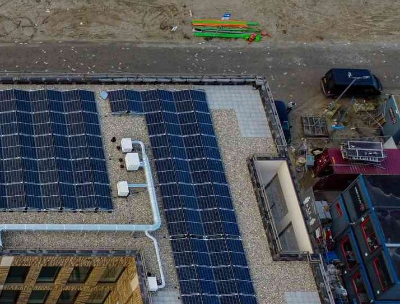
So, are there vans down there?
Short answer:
Yes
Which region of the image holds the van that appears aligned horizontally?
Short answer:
top right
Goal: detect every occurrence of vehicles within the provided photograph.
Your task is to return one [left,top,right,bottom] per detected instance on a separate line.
[319,64,384,96]
[268,96,290,143]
